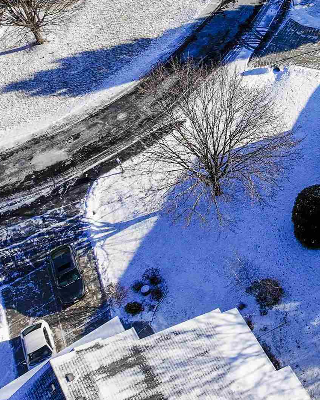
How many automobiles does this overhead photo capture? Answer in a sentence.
The picture shows 2 automobiles.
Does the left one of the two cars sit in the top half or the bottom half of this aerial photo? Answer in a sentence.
The left one of the two cars is in the bottom half of the image.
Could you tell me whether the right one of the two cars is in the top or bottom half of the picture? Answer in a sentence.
The right one of the two cars sits in the bottom half of the picture.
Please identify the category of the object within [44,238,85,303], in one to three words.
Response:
car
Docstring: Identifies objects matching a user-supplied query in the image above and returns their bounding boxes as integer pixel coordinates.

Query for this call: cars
[44,238,85,303]
[12,306,54,365]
